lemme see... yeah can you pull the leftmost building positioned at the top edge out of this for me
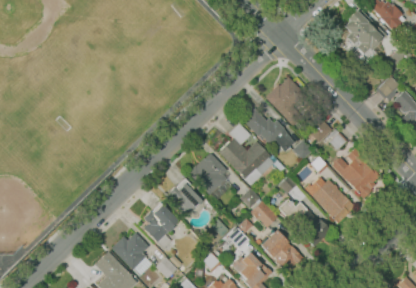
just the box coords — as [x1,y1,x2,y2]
[346,10,386,52]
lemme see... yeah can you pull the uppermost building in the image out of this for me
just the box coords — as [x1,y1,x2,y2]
[373,0,406,28]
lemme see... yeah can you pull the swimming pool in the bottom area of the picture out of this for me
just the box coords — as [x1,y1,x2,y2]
[185,198,218,234]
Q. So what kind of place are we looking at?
residential area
